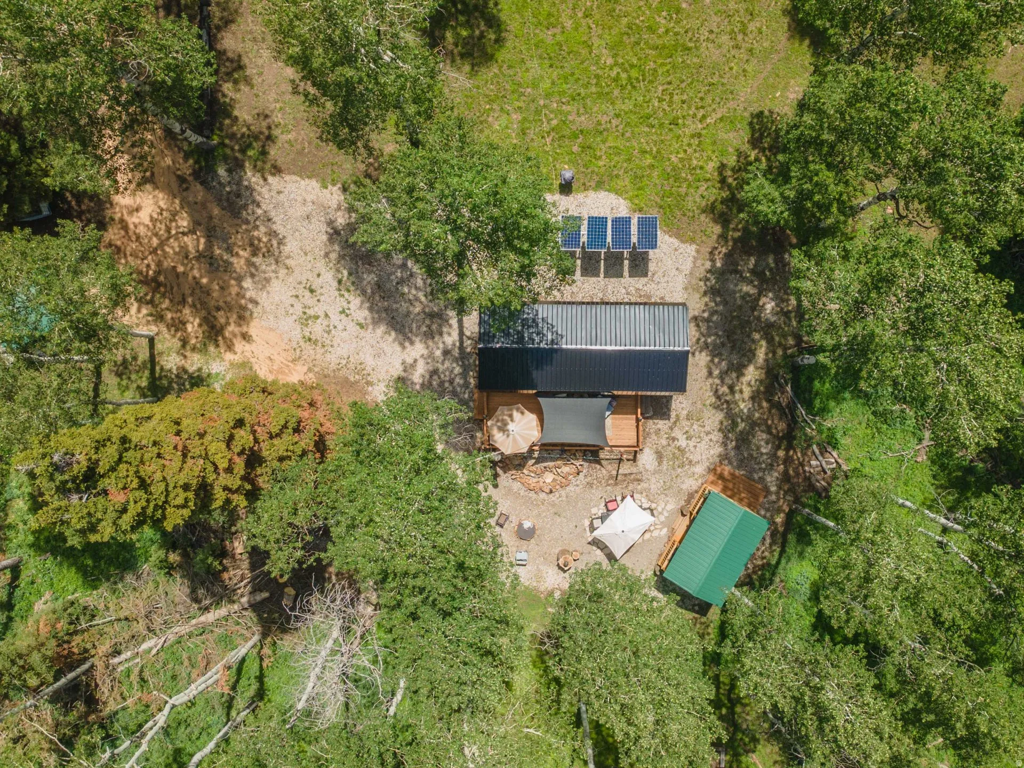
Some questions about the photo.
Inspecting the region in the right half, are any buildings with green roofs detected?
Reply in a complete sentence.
Yes, a building with a green roof appears in the right half.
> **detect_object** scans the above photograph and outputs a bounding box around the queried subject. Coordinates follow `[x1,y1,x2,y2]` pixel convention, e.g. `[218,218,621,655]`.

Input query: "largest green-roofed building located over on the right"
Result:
[663,490,770,607]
